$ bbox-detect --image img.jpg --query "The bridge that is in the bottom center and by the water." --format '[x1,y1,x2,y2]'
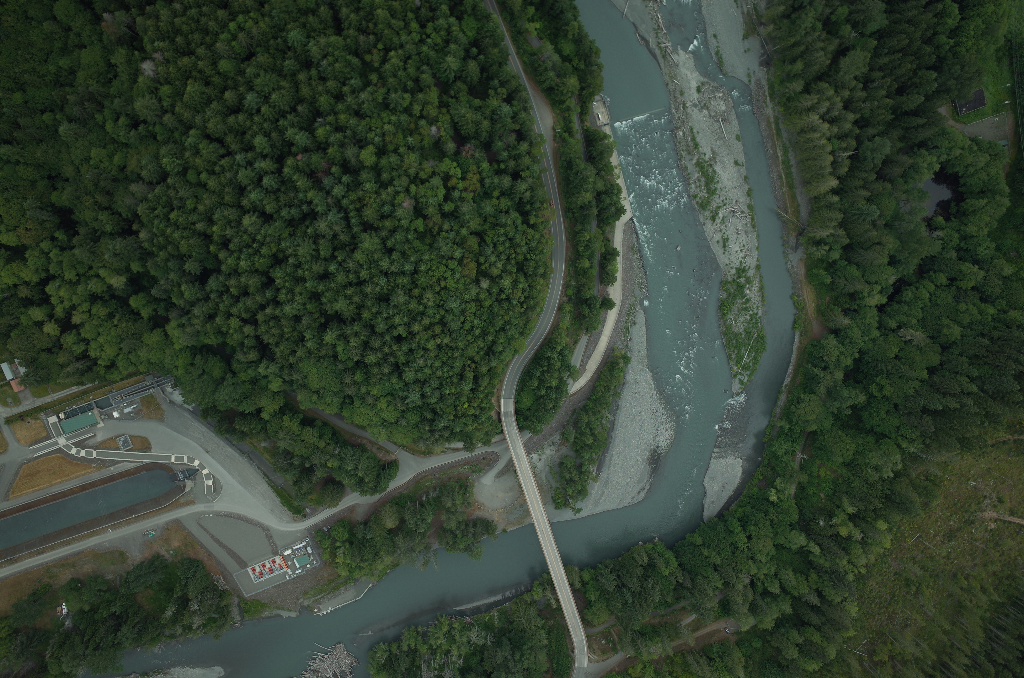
[500,399,589,668]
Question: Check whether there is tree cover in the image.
Yes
